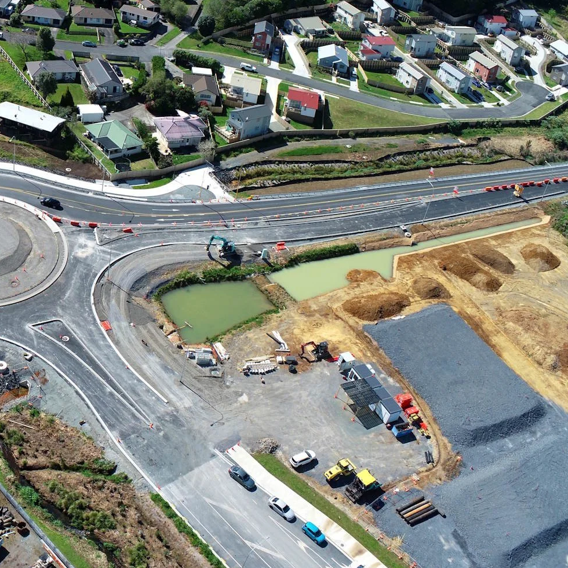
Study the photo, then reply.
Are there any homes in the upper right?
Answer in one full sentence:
Yes, a home is visible in the upper right.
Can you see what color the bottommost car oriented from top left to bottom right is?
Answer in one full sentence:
The color of the bottommost car oriented from top left to bottom right is blue.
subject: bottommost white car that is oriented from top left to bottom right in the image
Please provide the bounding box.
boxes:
[266,493,299,524]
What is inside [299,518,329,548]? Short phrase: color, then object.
blue car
